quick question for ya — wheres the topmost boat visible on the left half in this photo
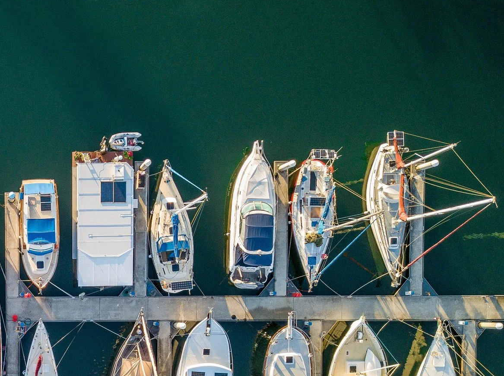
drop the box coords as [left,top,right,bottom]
[109,132,142,152]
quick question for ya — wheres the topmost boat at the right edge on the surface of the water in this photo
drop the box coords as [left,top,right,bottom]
[367,131,501,288]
